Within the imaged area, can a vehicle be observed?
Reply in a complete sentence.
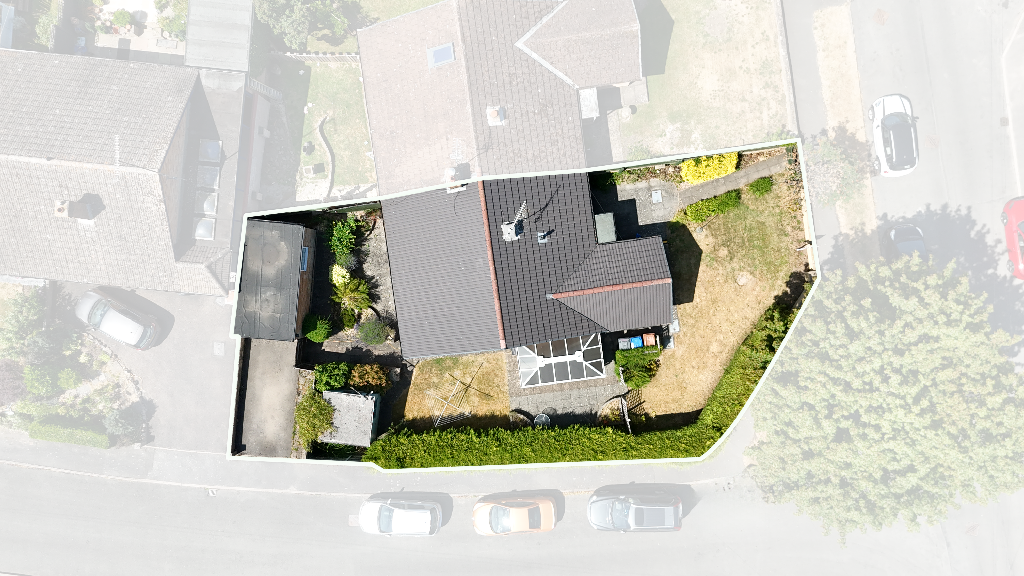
Yes, there is a vehicle in the image.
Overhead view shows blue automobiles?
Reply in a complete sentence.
No, the photo shows no blue automobile.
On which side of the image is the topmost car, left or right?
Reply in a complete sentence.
It is on the right.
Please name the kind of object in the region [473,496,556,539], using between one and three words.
car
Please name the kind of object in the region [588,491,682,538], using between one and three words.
car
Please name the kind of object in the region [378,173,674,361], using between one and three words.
house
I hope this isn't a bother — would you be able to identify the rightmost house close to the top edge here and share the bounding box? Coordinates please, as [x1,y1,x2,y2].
[354,0,641,202]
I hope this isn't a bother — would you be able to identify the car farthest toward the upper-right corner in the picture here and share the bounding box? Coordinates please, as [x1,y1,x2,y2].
[871,97,919,174]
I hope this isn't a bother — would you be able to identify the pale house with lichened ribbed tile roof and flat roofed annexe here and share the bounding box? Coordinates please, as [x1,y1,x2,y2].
[0,47,269,299]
